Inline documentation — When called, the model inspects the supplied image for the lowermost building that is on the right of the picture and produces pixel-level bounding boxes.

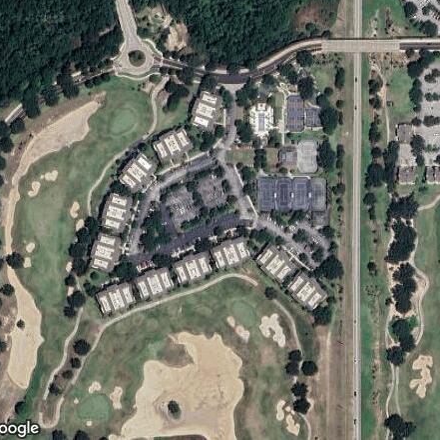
[288,273,326,308]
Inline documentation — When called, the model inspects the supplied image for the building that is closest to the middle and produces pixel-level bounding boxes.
[212,241,250,268]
